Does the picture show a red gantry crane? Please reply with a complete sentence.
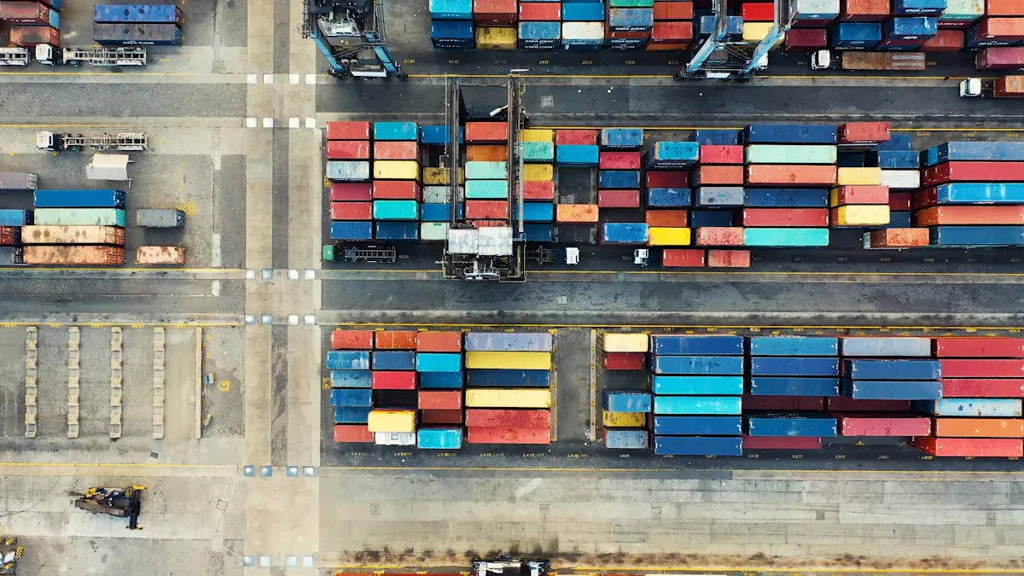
No, there is no red gantry crane in the image.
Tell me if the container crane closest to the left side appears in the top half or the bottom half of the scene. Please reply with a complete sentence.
The container crane closest to the left side sits in the top half of the picture.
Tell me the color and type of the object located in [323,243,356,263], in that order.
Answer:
green vehicle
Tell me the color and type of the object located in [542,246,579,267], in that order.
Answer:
white truck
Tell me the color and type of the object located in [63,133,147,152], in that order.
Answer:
white trailer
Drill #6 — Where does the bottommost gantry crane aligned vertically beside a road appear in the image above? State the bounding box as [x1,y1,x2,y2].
[432,70,539,290]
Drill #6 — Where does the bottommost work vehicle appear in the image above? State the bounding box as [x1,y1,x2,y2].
[64,481,150,535]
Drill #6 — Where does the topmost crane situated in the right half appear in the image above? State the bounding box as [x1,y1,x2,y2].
[673,0,804,84]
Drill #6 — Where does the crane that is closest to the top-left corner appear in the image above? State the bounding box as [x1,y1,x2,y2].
[303,0,417,82]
